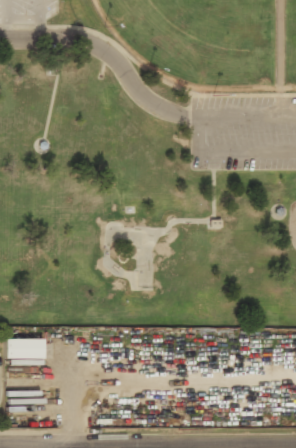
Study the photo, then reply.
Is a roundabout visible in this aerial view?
No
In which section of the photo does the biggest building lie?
bottom left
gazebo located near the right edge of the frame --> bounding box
[271,204,286,220]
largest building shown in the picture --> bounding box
[5,340,47,360]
